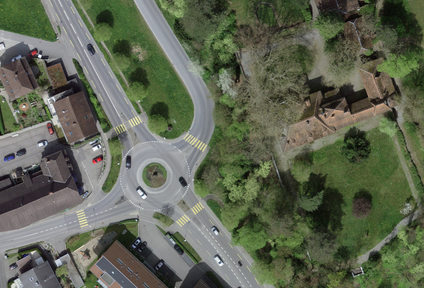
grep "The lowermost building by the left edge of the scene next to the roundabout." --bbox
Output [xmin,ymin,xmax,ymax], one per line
[0,151,84,232]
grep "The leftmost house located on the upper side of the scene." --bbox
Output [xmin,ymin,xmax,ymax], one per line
[0,56,38,101]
